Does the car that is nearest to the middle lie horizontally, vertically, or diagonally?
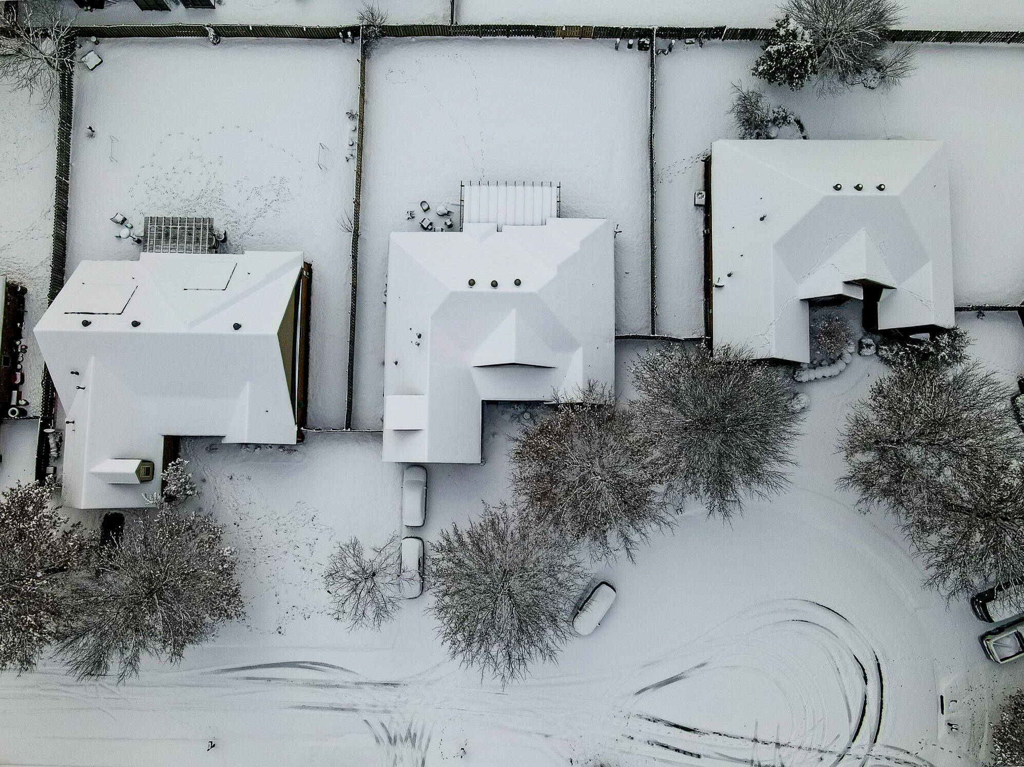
vertically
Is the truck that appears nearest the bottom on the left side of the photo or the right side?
right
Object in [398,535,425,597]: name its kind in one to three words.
vehicle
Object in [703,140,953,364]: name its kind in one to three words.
house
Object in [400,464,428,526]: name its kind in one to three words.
car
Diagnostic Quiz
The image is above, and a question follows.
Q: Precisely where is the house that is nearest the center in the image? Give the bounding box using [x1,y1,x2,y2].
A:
[383,219,624,464]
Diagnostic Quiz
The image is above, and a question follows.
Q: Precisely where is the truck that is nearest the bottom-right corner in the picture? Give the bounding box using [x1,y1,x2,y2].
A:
[980,619,1024,662]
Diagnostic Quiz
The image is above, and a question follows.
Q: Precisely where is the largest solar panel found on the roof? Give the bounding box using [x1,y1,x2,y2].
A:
[60,280,138,313]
